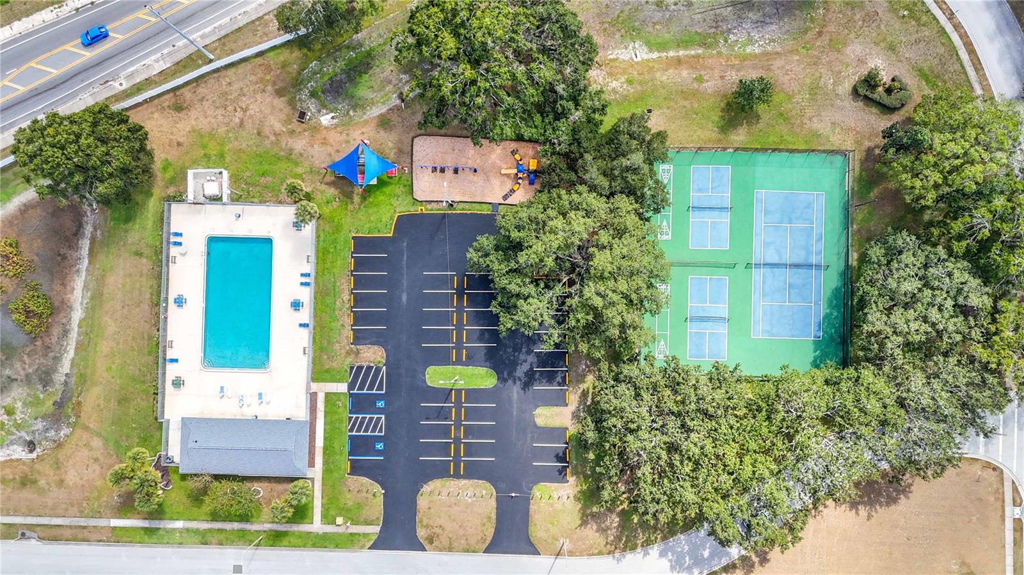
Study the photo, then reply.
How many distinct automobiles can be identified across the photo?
1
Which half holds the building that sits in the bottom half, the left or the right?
left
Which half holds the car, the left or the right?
left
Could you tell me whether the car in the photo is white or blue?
blue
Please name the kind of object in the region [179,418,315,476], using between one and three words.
building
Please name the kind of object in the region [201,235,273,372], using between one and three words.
swimming pool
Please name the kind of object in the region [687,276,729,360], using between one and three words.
sports court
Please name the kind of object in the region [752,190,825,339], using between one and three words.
tennis court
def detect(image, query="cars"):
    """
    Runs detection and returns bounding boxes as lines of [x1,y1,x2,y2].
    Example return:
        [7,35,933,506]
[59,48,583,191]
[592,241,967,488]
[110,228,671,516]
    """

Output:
[78,23,107,45]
